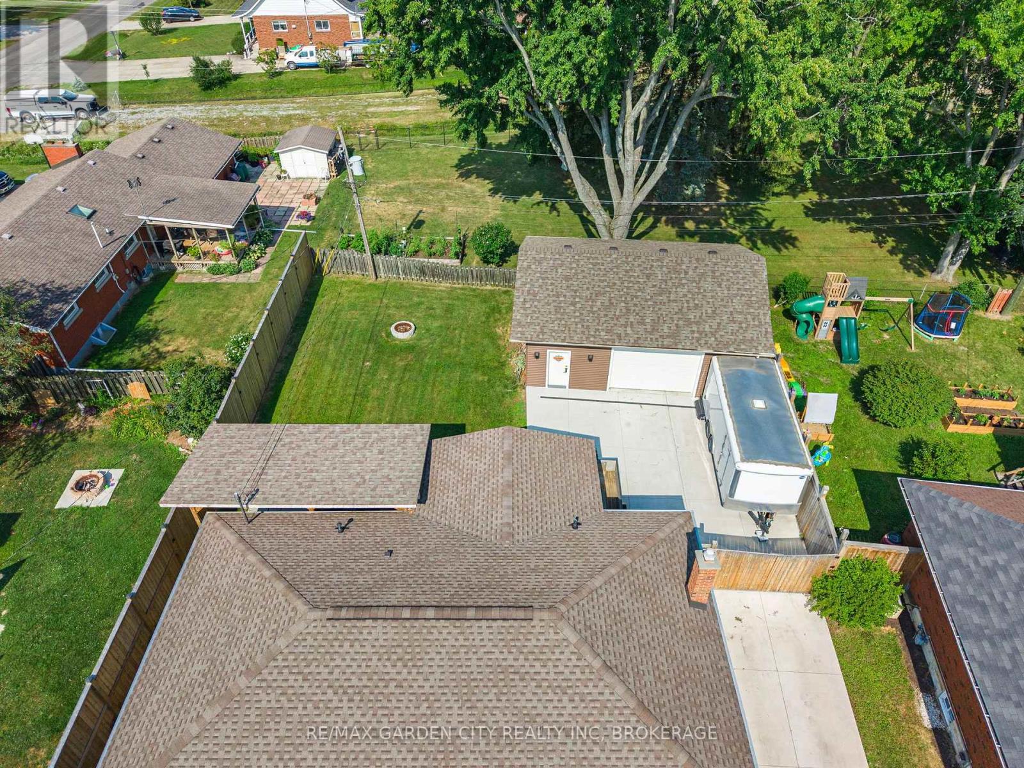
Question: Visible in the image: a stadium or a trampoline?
trampoline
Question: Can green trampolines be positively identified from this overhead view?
No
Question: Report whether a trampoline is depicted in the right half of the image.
Yes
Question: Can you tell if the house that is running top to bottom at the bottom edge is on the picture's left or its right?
right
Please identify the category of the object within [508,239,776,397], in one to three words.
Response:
building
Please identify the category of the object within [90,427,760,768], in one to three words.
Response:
house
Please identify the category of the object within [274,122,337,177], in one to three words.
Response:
shed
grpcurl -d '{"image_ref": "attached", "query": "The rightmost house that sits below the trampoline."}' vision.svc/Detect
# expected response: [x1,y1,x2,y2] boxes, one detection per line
[894,476,1024,768]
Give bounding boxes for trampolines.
[915,292,971,341]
